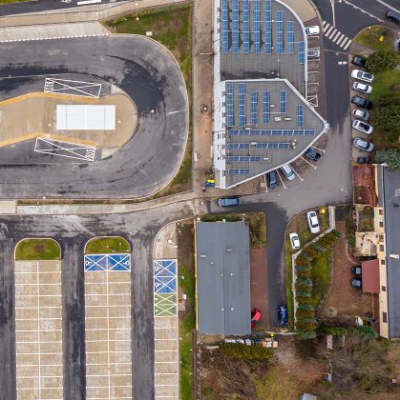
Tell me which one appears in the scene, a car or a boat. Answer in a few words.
car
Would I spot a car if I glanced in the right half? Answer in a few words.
Yes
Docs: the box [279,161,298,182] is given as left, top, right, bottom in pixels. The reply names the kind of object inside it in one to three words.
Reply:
car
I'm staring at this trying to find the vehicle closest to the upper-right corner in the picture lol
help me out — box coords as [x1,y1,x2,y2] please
[383,9,400,25]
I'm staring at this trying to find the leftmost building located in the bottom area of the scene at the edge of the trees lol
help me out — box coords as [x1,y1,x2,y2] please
[190,222,251,336]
